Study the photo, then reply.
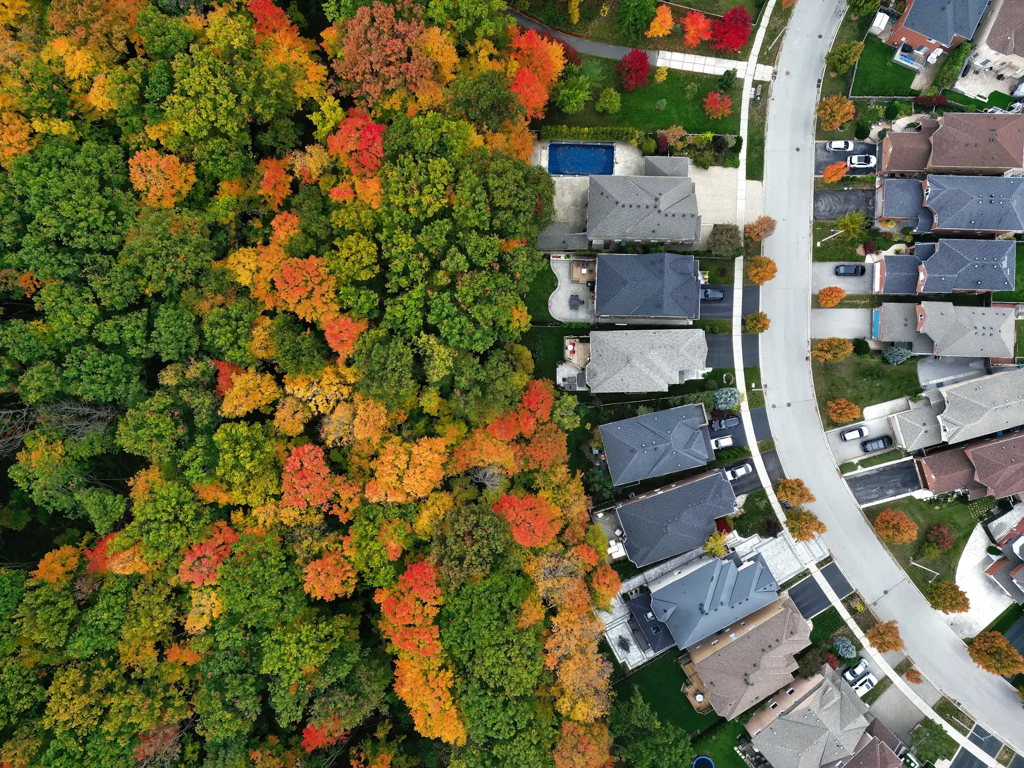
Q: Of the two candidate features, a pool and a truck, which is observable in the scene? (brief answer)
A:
pool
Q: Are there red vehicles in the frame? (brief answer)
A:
No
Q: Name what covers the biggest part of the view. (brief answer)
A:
trees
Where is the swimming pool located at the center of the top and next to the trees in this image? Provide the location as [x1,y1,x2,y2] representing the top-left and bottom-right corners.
[546,140,616,177]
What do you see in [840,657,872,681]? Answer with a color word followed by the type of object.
white car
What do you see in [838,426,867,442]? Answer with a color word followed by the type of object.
white car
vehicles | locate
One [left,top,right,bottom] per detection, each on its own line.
[846,154,877,169]
[859,435,892,453]
[851,671,880,698]
[726,462,753,481]
[825,138,853,153]
[840,657,872,681]
[834,262,866,276]
[711,434,737,449]
[701,286,728,301]
[710,414,742,431]
[838,426,867,442]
